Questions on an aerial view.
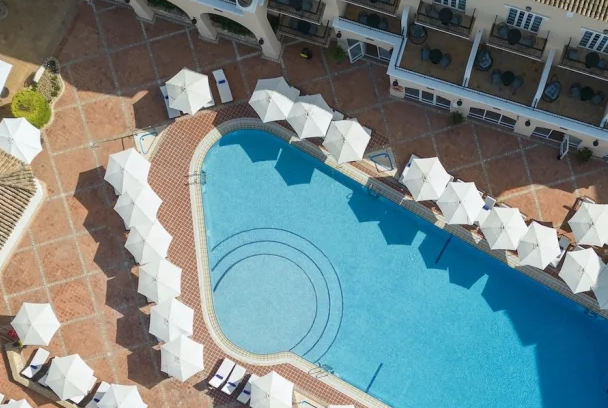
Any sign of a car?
No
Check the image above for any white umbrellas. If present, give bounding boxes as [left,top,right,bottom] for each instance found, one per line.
[480,207,527,250]
[403,157,451,200]
[160,335,203,382]
[251,371,294,408]
[115,184,162,229]
[324,119,371,163]
[250,75,297,119]
[104,148,150,194]
[12,303,60,345]
[99,384,147,408]
[437,183,485,225]
[151,295,195,342]
[286,94,333,138]
[125,220,172,266]
[0,114,42,161]
[47,355,94,400]
[559,249,607,293]
[518,222,562,269]
[167,68,212,115]
[569,203,608,247]
[138,258,182,303]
